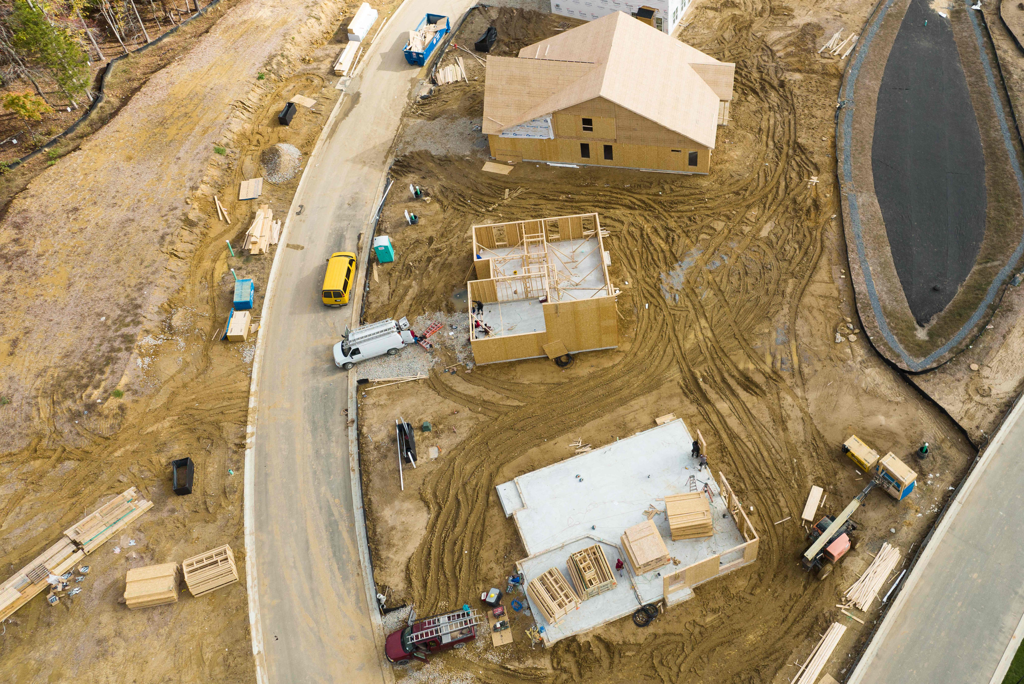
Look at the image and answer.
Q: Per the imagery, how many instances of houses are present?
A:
two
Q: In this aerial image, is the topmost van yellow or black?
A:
yellow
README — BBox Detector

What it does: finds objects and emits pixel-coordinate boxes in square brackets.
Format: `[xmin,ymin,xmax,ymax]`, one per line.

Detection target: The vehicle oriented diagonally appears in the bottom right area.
[792,482,888,585]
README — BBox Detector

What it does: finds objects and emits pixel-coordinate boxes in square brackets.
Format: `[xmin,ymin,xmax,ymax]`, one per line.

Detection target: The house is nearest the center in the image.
[467,211,623,365]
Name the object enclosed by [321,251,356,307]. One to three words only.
van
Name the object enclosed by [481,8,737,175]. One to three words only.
house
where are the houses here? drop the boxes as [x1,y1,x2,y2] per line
[481,8,737,175]
[467,211,623,365]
